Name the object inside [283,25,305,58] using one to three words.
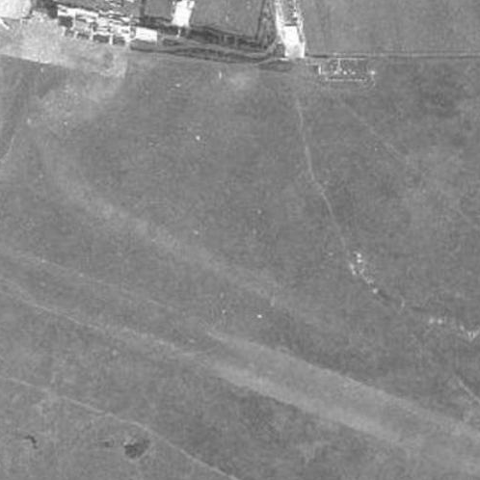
building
